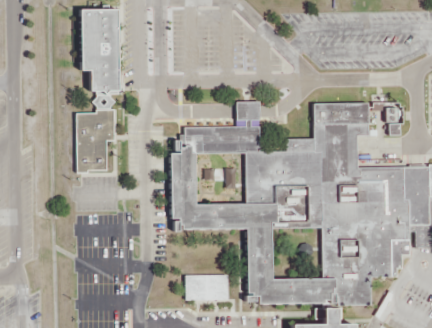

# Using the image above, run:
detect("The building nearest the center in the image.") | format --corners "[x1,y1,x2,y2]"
[202,168,236,188]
